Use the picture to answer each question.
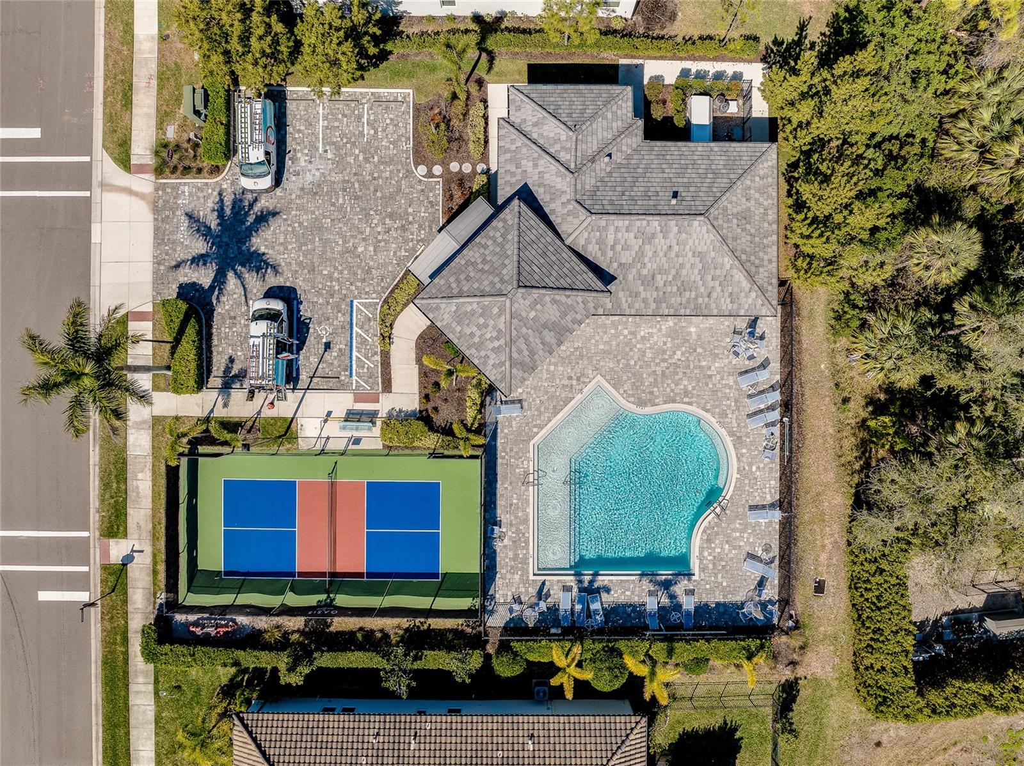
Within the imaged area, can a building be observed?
Yes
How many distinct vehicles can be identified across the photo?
two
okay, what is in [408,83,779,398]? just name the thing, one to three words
building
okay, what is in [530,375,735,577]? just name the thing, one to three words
swimming pool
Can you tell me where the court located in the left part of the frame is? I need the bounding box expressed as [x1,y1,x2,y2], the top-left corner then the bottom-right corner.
[178,451,483,606]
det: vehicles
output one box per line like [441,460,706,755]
[236,95,280,195]
[246,296,304,399]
